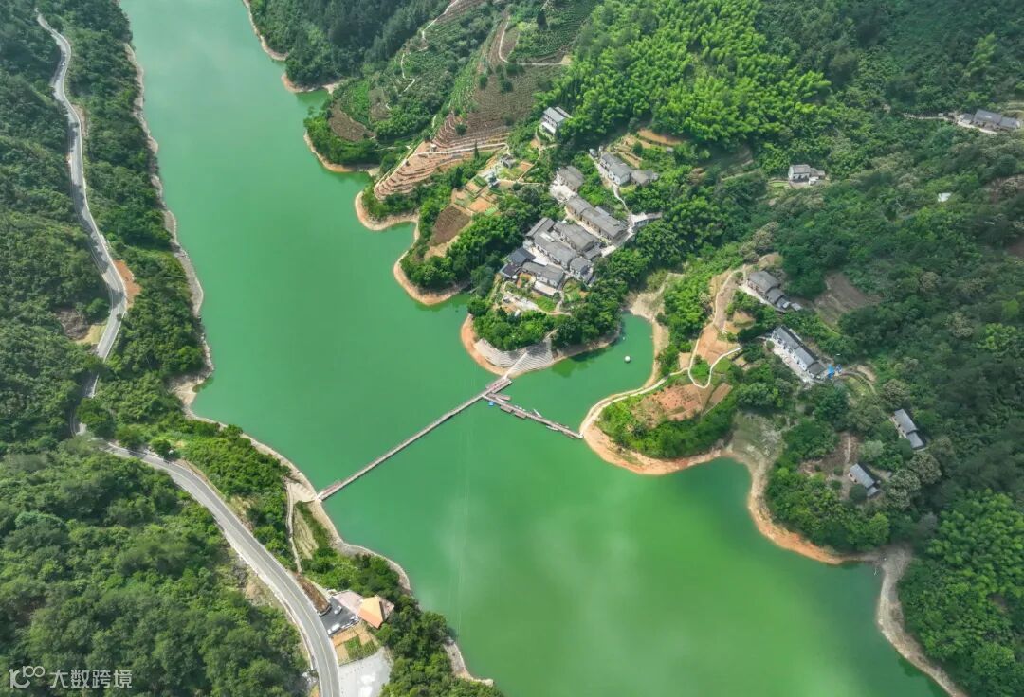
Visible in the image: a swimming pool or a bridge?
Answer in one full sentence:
This aerial view contains a bridge.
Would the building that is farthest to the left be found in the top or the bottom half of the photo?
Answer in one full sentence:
Seen from above, the building that is farthest to the left lies in the bottom half of the view.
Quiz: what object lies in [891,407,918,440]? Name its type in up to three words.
house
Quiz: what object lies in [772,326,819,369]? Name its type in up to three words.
house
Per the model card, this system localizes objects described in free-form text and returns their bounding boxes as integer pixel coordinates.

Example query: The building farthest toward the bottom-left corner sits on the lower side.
[359,597,387,630]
